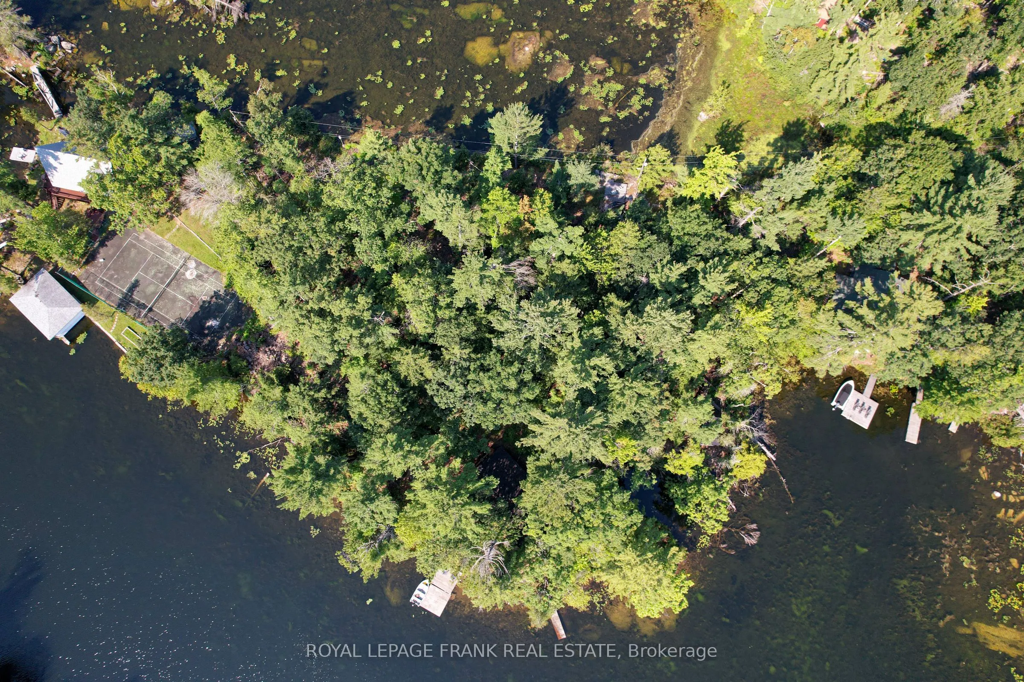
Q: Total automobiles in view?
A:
0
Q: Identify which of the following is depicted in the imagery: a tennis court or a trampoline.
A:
tennis court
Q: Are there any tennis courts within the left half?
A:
Yes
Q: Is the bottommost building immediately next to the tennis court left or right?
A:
left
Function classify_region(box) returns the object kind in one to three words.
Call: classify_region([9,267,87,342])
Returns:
building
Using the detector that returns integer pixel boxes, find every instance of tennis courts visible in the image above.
[78,224,246,354]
